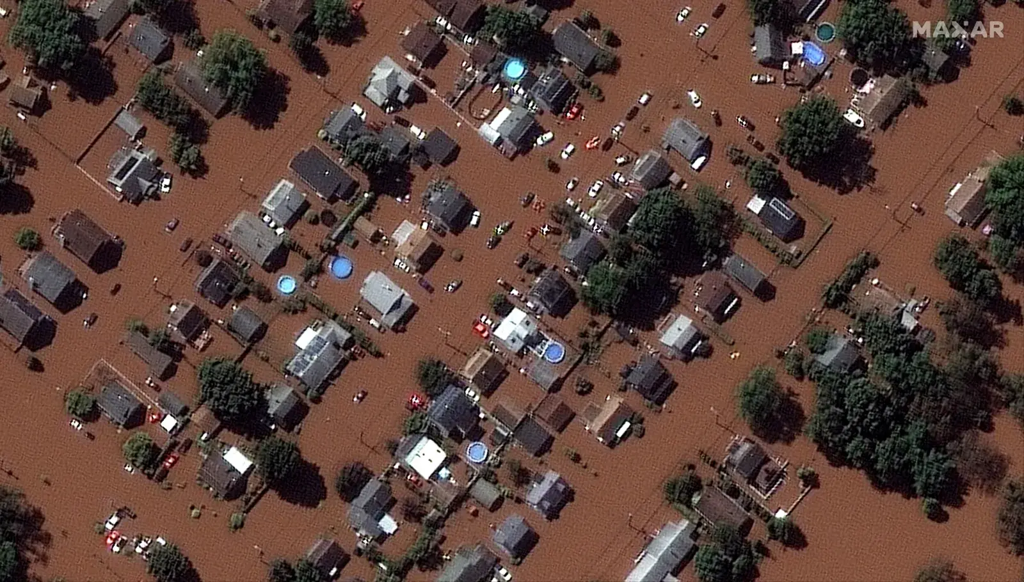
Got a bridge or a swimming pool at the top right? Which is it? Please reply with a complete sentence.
The feature located at the top right is a swimming pool.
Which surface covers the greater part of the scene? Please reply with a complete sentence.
The largest share of the image is taken up by water.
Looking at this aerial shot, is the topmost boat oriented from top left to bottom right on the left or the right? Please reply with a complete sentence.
The topmost boat oriented from top left to bottom right is on the right side of the image.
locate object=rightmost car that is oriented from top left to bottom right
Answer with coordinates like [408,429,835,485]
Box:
[907,200,926,216]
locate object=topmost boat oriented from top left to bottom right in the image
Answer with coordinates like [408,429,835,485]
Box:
[840,106,865,126]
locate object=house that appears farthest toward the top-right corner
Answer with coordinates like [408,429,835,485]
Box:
[923,48,951,71]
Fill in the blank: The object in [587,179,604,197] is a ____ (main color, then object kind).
white car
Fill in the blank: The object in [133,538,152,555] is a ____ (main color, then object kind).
white car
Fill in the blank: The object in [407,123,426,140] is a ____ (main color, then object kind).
white vehicle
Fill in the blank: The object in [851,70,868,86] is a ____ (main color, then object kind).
black trampoline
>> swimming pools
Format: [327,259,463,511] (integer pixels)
[544,341,564,362]
[330,257,354,278]
[815,22,837,41]
[503,58,526,79]
[466,442,489,462]
[802,43,826,64]
[277,275,298,294]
